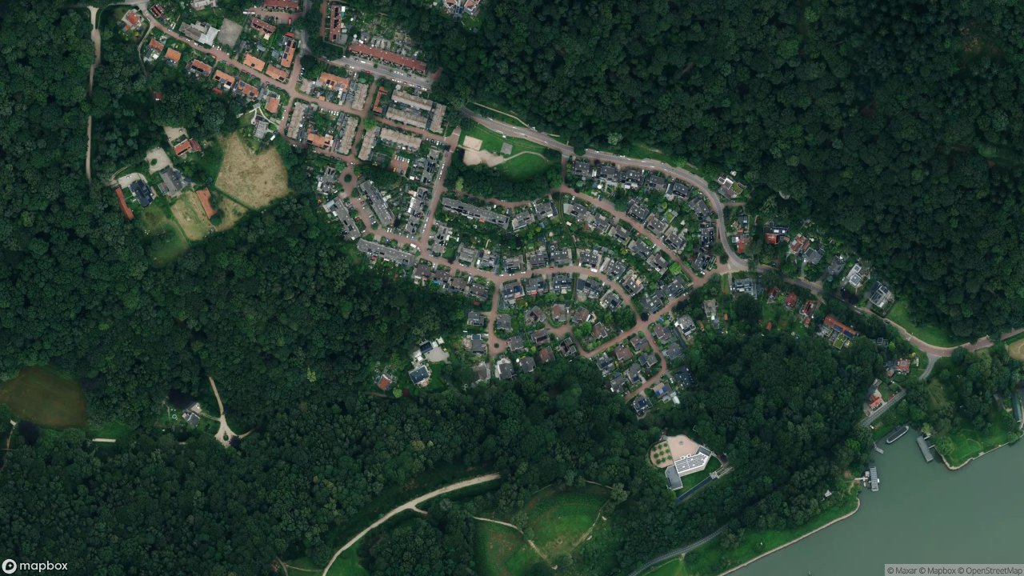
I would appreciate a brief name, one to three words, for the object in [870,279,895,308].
house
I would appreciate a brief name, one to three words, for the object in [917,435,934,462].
boat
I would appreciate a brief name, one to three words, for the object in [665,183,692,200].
house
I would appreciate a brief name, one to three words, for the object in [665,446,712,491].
building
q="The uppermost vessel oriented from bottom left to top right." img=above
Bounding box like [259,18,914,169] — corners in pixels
[886,425,910,443]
